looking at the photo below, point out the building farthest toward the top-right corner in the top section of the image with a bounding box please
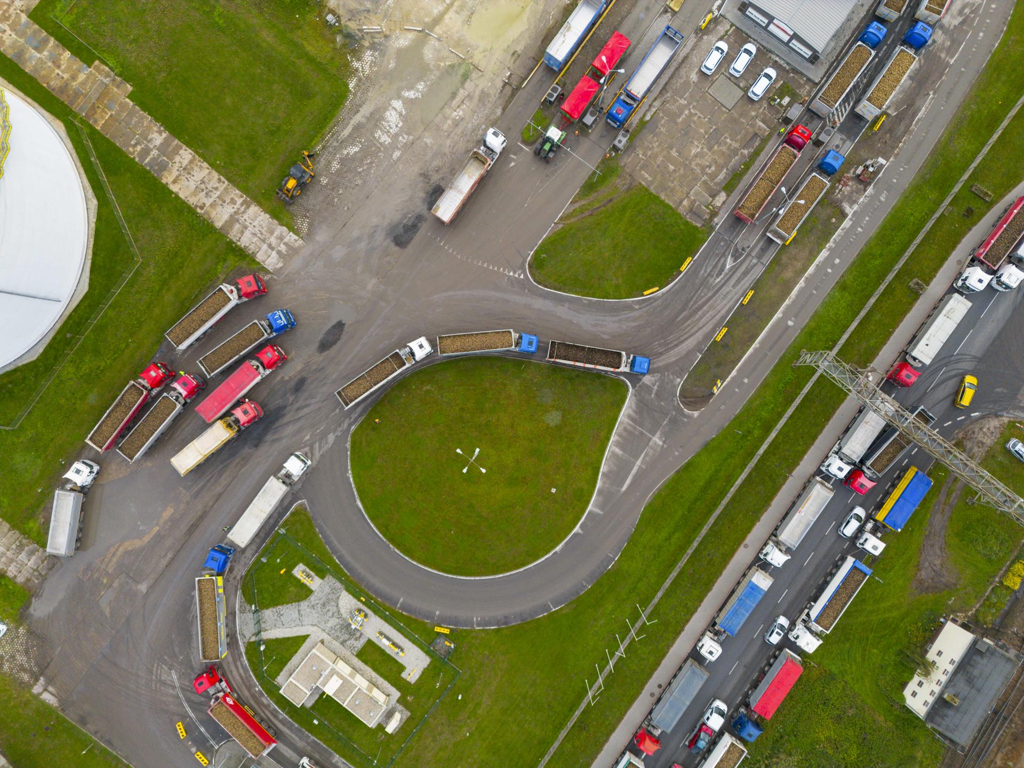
[732,0,861,71]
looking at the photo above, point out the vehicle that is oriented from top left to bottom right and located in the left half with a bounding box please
[192,661,275,759]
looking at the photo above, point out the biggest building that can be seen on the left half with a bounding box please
[279,643,389,728]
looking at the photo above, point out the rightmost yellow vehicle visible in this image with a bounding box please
[953,375,977,409]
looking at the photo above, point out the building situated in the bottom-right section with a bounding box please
[904,621,1020,746]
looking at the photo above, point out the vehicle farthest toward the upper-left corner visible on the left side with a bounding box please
[275,146,314,203]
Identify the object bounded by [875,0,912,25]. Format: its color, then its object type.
gray truck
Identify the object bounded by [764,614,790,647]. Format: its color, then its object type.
white car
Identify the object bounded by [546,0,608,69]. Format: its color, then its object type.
white truck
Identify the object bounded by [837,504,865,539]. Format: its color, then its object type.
white car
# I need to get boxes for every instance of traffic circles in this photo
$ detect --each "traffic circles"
[306,355,646,628]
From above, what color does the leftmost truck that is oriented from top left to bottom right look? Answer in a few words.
red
